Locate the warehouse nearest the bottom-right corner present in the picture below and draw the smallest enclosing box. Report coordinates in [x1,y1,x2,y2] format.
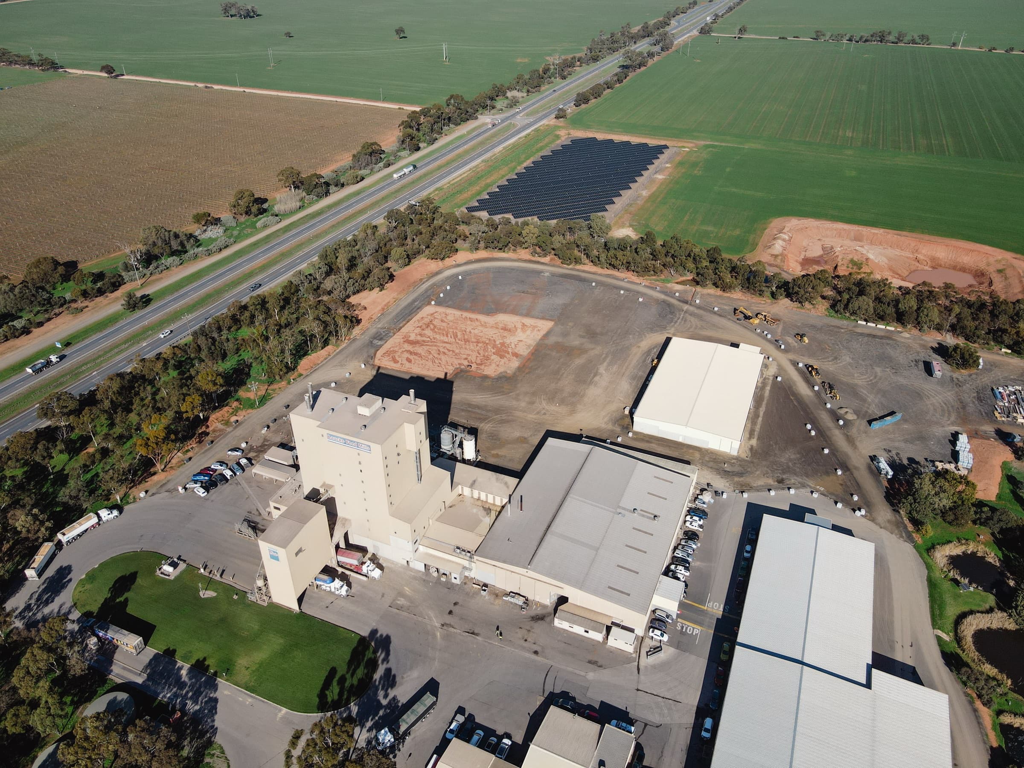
[708,513,954,768]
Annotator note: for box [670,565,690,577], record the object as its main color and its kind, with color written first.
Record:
white vehicle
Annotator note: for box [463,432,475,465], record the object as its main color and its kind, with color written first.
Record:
white silo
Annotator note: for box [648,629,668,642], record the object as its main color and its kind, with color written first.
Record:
white vehicle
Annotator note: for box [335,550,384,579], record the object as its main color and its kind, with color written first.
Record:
white truck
